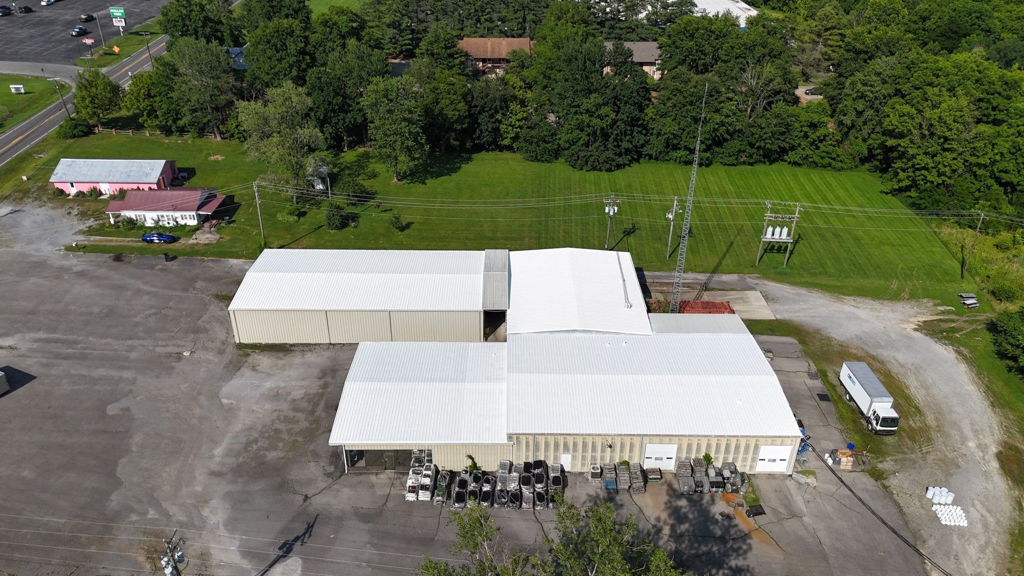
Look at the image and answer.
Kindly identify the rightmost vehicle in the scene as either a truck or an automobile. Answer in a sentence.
Looking closely, the rightmost vehicle is a truck.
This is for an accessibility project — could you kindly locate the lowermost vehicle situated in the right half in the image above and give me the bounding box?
[841,361,905,434]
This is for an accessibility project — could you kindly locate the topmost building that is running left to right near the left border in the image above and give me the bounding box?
[45,158,179,200]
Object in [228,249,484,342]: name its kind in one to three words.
barn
